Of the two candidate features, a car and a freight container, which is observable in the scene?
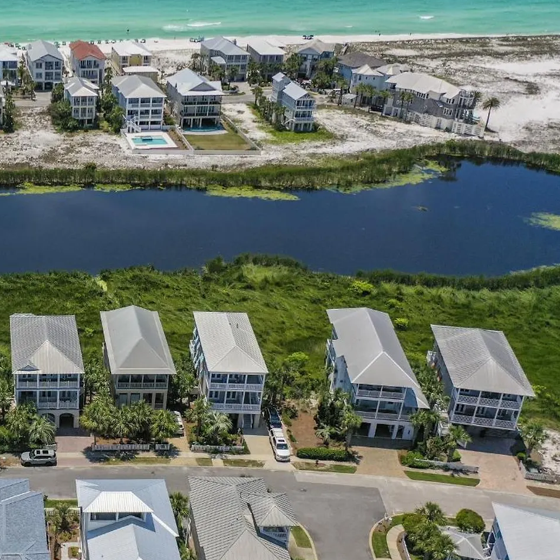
car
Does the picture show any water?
Yes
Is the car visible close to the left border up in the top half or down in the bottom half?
bottom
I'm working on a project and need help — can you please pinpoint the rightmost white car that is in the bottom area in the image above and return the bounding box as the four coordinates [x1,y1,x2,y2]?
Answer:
[268,427,290,459]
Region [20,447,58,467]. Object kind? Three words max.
car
